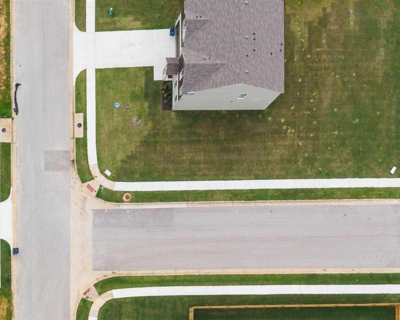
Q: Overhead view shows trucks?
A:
No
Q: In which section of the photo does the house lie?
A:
top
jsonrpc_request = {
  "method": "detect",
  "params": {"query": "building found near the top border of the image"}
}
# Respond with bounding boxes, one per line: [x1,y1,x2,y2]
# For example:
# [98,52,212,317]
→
[161,0,283,109]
